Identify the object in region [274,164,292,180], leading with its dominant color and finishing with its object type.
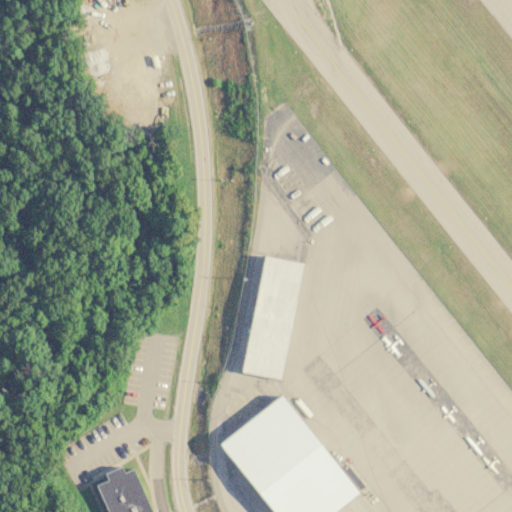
white vehicle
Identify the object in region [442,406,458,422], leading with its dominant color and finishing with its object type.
white airplane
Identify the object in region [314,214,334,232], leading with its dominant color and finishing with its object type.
white vehicle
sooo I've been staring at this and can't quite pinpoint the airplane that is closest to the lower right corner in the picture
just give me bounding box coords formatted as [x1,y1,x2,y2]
[484,457,500,474]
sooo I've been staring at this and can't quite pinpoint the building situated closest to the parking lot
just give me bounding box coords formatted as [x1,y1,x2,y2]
[98,468,153,512]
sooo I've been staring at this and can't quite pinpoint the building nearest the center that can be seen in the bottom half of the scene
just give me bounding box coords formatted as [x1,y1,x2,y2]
[242,258,304,379]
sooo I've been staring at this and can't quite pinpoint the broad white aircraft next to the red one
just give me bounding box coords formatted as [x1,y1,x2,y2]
[382,336,404,358]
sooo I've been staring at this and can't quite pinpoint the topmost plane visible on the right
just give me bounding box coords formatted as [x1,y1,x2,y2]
[368,314,387,334]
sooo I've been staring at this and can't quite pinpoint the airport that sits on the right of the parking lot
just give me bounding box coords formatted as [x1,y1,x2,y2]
[210,0,512,512]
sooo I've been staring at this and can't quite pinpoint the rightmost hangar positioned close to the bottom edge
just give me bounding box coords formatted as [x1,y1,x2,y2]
[221,397,360,512]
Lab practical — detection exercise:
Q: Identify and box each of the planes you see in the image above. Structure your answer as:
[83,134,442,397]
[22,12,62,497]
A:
[382,336,404,358]
[484,457,500,474]
[466,436,484,456]
[442,406,458,422]
[368,314,387,334]
[419,380,436,398]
